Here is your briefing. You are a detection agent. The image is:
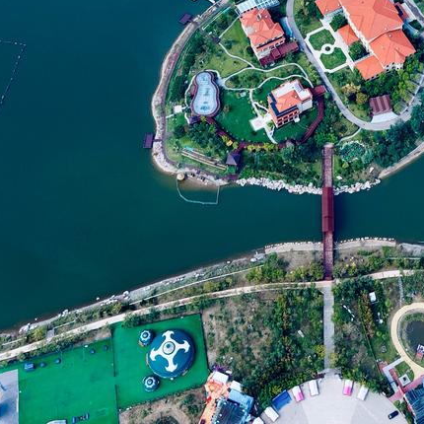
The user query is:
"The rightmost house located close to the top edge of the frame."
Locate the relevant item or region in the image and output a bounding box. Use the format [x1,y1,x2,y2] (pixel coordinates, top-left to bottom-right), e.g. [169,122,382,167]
[316,0,416,83]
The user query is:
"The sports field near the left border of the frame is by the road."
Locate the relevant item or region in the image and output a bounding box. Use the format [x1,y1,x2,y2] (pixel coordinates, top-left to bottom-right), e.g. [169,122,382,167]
[16,337,118,424]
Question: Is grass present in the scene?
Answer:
Yes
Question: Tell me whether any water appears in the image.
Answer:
Yes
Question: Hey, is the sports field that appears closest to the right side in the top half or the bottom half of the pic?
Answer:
bottom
